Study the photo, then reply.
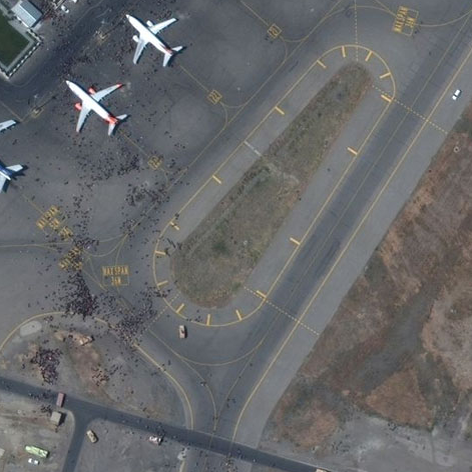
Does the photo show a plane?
Yes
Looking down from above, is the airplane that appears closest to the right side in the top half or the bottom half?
top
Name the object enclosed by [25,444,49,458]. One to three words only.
vehicle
